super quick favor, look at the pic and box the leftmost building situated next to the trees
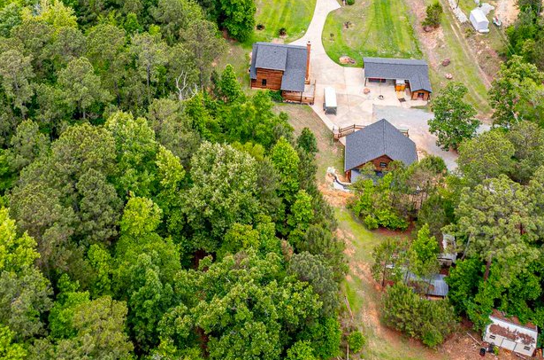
[249,40,314,103]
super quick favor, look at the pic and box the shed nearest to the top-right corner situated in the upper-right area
[464,10,494,32]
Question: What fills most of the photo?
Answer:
trees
